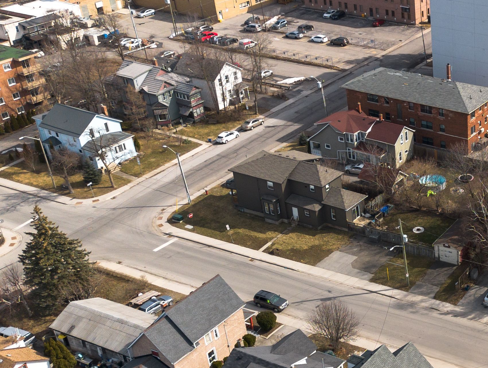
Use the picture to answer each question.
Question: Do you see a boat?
No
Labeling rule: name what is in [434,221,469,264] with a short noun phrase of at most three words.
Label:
building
